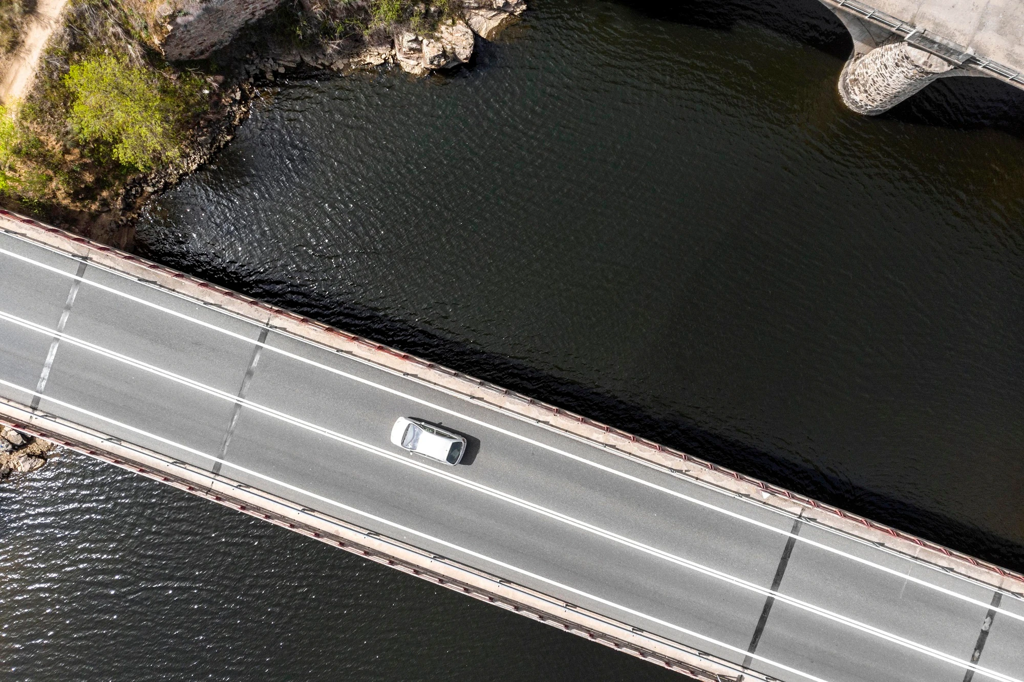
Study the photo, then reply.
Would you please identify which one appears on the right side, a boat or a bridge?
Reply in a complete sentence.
The feature located on the right side is a bridge.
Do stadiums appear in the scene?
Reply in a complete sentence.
No, I can't see a single stadium in this photo.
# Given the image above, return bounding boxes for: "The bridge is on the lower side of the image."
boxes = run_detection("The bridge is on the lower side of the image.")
[0,206,1024,682]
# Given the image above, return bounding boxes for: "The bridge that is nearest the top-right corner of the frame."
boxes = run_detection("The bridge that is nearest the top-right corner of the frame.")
[819,0,1024,117]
